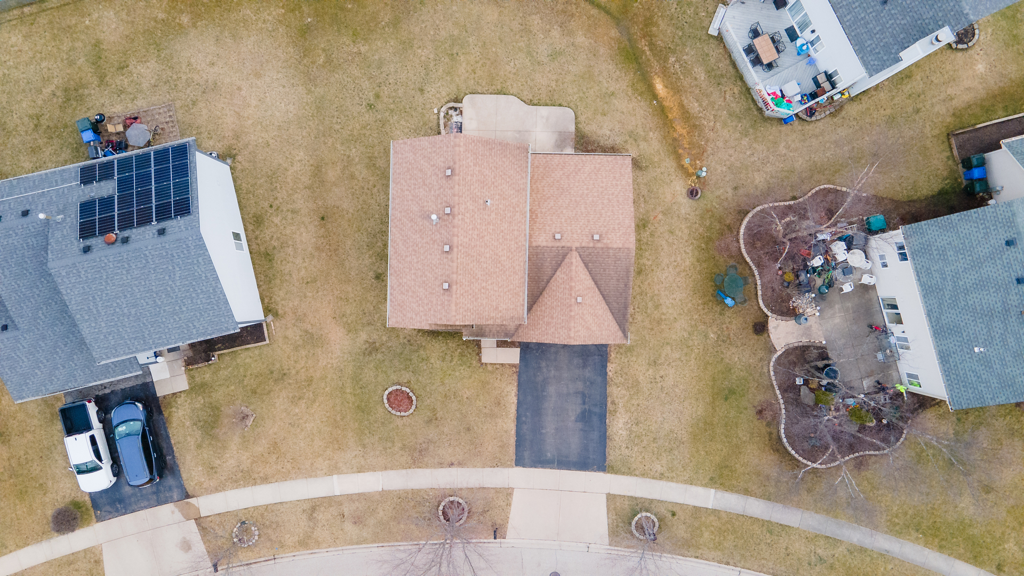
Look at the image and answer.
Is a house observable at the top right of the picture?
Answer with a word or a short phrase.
Yes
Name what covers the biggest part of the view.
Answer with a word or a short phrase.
grass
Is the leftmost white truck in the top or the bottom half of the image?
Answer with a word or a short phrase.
bottom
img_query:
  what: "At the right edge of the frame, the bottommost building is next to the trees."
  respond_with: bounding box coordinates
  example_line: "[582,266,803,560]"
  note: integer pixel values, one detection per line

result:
[868,133,1024,410]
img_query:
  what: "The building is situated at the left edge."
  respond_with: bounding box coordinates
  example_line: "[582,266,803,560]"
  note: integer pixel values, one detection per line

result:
[0,137,270,406]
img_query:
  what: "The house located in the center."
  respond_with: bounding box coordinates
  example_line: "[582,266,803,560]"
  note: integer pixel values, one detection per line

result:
[385,134,635,344]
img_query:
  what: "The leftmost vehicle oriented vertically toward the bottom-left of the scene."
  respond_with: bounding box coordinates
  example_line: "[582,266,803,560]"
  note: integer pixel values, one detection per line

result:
[60,396,119,495]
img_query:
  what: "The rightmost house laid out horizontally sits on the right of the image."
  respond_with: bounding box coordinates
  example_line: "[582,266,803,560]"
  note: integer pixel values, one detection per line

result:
[784,0,1006,102]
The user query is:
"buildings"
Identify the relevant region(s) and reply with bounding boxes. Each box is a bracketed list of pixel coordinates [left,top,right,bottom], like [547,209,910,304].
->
[385,134,635,344]
[0,137,270,406]
[784,0,1006,102]
[868,133,1024,410]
